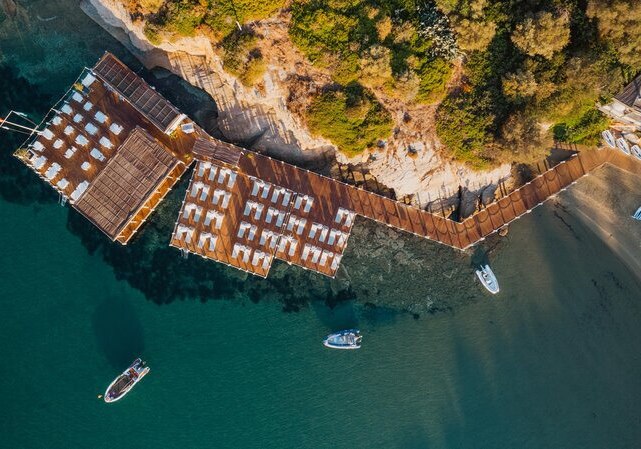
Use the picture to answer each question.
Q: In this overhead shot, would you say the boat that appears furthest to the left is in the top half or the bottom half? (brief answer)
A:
bottom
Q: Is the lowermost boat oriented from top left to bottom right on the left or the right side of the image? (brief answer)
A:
right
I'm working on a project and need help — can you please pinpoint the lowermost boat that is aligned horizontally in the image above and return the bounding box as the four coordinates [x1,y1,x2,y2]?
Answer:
[322,333,363,351]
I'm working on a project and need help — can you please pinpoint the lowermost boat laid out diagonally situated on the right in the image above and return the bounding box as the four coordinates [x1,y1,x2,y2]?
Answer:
[476,264,500,295]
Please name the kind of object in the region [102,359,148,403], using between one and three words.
boat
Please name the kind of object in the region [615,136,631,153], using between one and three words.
boat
